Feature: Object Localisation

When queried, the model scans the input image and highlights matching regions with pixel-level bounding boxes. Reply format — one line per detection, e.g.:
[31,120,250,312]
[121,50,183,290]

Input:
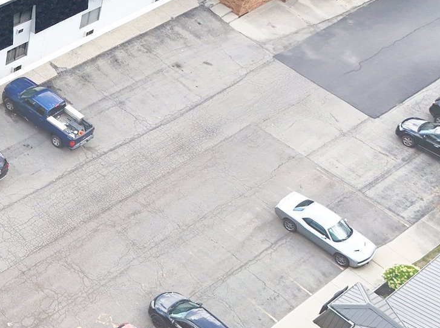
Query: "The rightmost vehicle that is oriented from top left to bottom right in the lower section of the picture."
[276,189,381,274]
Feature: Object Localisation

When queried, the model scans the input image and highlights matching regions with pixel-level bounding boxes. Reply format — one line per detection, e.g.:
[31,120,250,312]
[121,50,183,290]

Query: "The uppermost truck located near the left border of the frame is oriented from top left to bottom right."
[3,77,100,154]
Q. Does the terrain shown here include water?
No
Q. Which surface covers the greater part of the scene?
paved ground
